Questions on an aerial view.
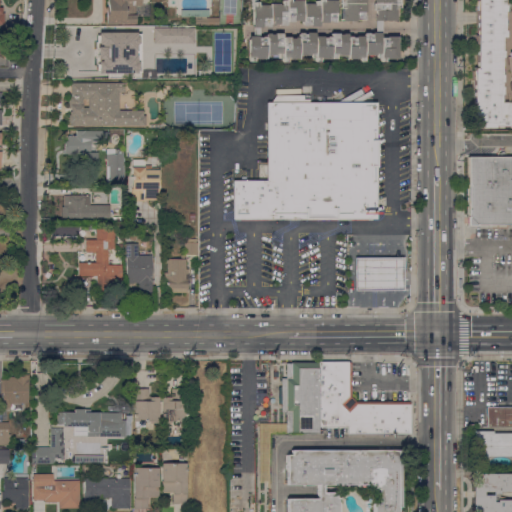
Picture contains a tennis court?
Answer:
Yes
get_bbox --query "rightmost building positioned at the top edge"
[476,0,512,127]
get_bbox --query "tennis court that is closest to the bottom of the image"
[164,97,236,128]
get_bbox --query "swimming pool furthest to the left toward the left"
[12,452,27,474]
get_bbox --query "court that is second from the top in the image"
[214,32,232,74]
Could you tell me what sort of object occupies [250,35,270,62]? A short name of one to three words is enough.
house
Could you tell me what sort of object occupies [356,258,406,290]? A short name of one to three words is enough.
building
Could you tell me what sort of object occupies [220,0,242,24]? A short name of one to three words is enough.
sports court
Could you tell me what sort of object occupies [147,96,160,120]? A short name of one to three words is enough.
swimming pool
